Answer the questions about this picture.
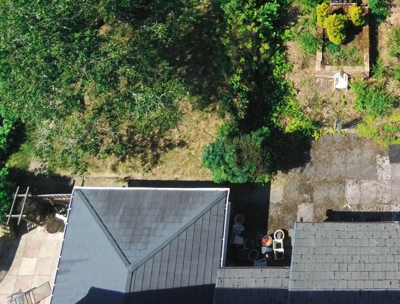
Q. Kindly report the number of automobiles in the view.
0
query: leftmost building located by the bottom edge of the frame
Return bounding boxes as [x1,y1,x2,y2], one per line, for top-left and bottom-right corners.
[47,186,235,304]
